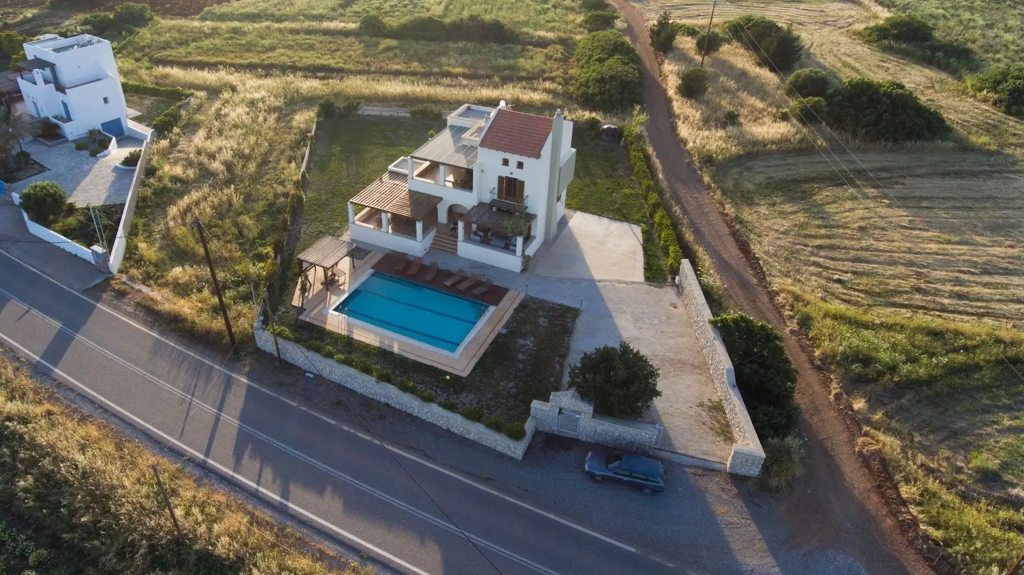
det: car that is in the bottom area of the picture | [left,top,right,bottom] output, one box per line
[583,449,670,497]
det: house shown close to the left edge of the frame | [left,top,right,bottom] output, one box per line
[15,31,129,157]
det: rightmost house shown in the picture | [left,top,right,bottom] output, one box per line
[347,104,576,272]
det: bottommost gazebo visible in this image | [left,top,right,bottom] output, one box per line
[295,234,357,292]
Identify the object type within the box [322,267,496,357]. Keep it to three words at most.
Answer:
swimming pool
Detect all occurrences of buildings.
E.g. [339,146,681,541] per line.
[15,31,129,157]
[347,104,576,272]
